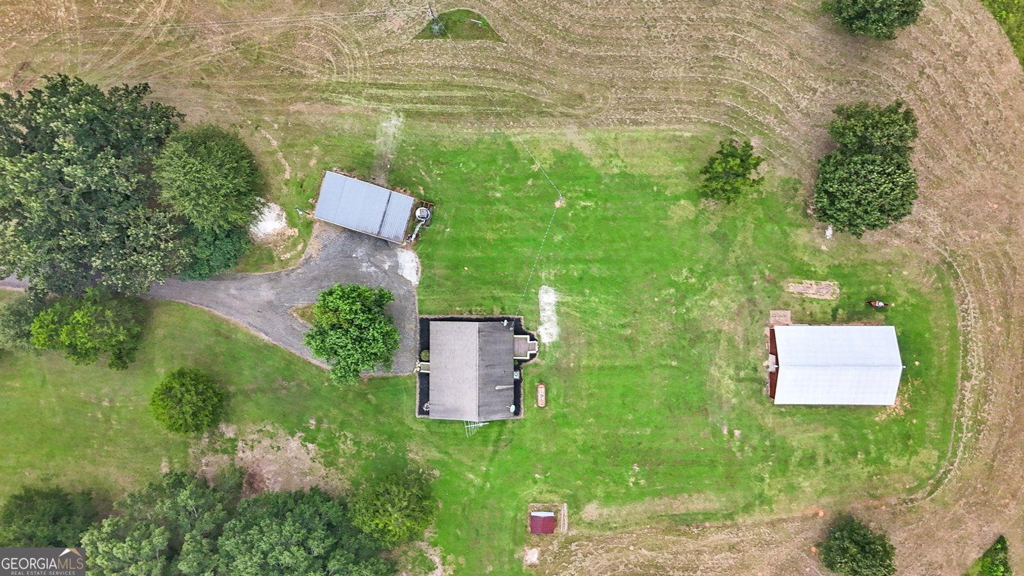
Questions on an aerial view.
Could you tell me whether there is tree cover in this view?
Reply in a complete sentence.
Yes, some tree cover is visible.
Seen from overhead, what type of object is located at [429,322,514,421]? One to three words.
house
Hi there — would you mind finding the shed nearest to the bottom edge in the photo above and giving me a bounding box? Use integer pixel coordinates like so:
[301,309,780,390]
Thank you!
[531,512,554,535]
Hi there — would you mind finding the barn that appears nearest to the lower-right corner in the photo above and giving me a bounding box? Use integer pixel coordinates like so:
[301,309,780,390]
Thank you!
[769,324,908,405]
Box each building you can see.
[429,322,514,421]
[313,171,416,244]
[769,324,908,405]
[531,512,554,535]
